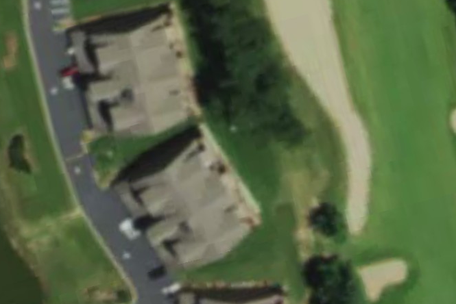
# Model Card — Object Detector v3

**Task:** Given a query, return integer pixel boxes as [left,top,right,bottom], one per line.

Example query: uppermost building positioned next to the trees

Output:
[67,1,198,133]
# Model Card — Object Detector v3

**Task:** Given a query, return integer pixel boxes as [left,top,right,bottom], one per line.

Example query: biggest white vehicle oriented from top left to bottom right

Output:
[121,218,137,241]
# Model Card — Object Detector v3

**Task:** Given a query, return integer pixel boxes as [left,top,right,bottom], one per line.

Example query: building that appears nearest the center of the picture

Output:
[115,133,255,269]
